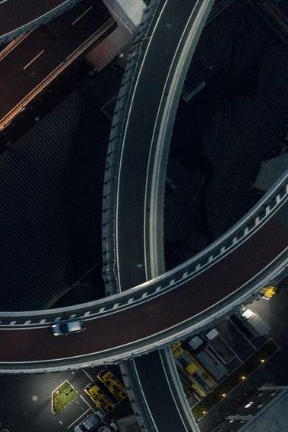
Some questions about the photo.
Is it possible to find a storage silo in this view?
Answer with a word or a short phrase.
No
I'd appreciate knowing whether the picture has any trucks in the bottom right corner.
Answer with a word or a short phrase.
Yes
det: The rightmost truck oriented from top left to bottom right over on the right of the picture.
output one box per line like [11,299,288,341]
[243,308,280,342]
